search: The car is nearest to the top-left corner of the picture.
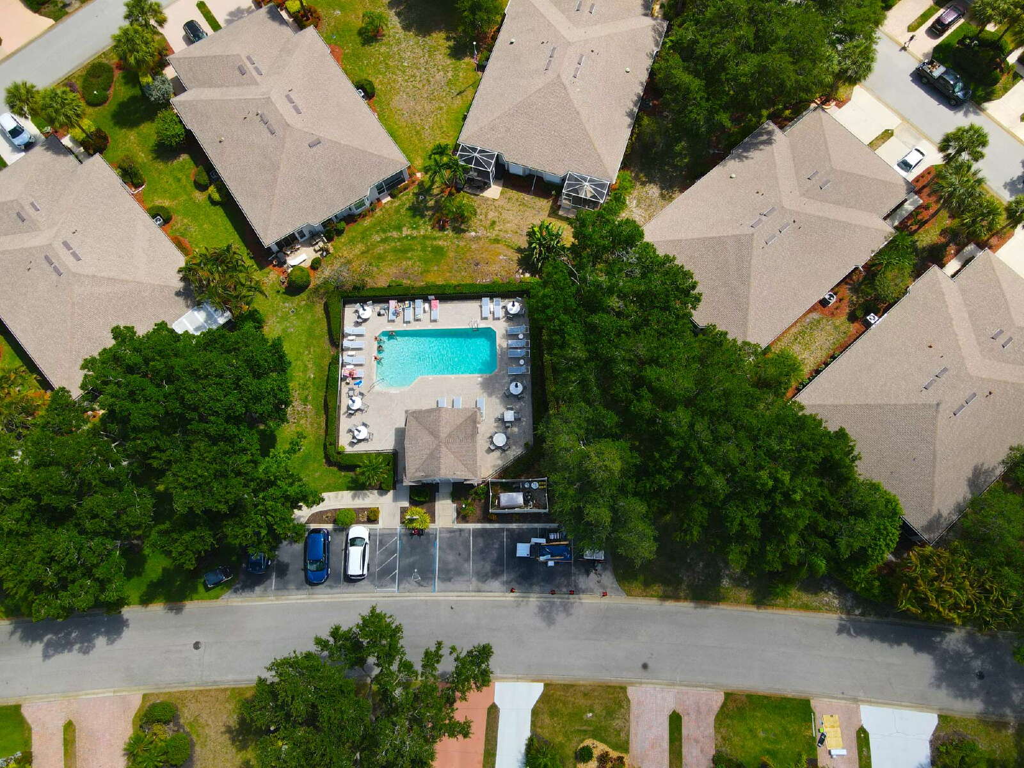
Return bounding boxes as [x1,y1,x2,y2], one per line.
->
[0,111,33,150]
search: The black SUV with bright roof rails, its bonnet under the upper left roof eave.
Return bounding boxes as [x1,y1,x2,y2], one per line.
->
[183,19,207,46]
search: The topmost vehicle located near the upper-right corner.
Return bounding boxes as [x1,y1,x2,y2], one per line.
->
[933,0,972,33]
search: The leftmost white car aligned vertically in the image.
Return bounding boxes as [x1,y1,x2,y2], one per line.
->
[344,525,370,580]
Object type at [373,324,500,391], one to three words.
swimming pool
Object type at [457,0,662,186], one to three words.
house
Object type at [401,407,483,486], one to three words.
building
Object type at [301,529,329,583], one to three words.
car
